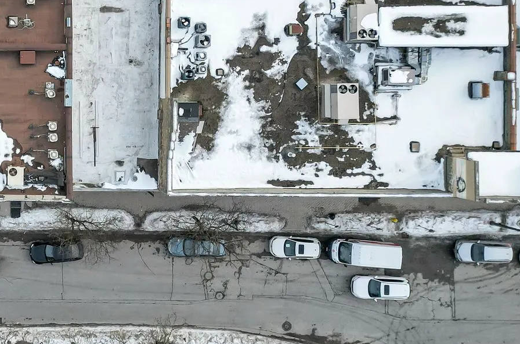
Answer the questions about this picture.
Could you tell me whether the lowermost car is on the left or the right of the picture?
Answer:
right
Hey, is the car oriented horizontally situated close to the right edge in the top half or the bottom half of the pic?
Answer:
bottom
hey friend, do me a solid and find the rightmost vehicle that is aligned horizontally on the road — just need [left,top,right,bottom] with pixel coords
[451,238,515,266]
